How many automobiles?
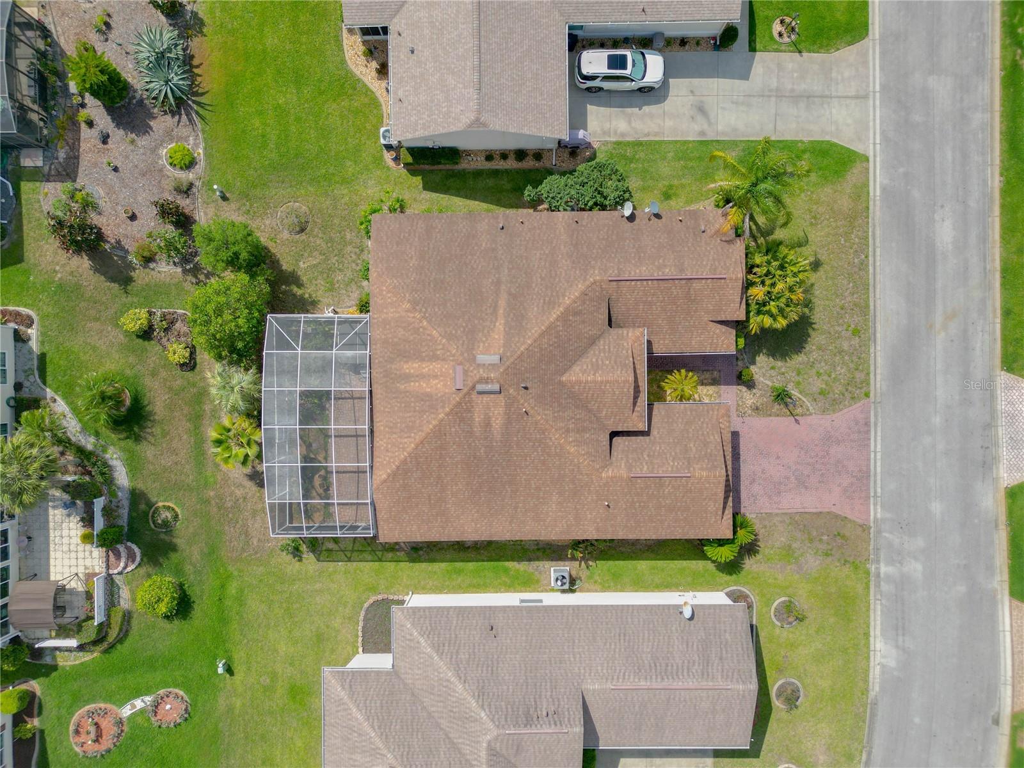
one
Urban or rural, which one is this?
urban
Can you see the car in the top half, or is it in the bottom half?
top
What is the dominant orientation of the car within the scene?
from side to side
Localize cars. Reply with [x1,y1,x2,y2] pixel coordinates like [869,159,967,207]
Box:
[574,46,665,93]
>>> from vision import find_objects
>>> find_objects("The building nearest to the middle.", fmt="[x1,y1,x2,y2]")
[367,208,747,542]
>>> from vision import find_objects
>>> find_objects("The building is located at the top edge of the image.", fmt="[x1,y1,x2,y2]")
[341,0,742,167]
